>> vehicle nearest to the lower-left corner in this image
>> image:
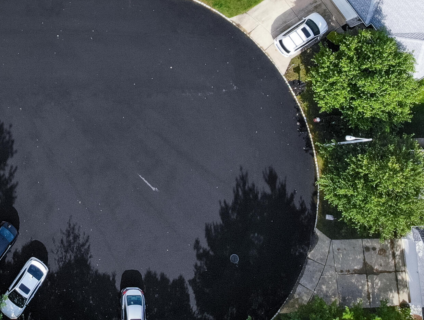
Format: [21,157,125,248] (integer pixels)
[0,255,51,320]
